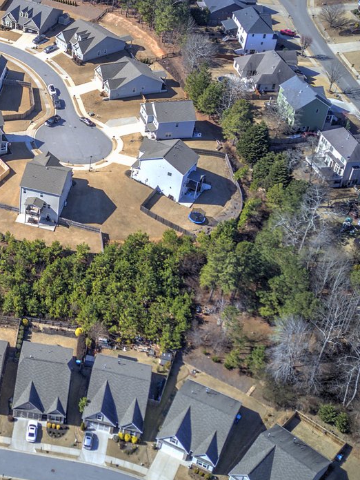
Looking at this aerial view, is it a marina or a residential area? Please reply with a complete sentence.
The picture captures a residential area.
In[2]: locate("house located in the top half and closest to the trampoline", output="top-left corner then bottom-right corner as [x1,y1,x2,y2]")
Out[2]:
[126,135,212,202]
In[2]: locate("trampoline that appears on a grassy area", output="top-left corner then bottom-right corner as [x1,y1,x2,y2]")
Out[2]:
[189,207,209,225]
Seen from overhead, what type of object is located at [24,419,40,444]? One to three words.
car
